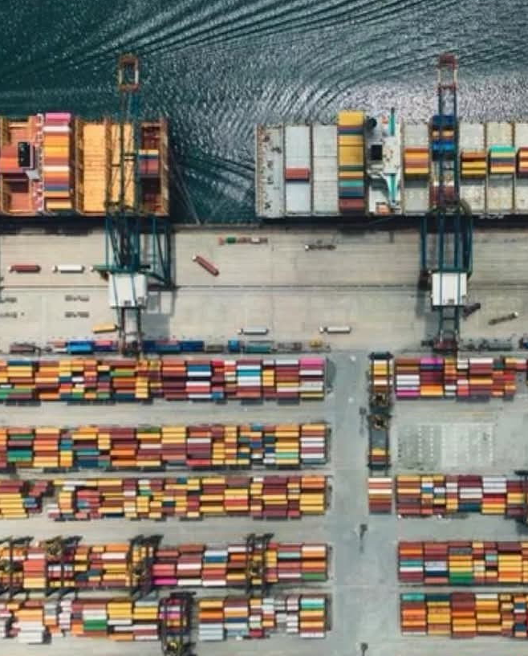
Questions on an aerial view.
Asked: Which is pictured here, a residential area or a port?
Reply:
port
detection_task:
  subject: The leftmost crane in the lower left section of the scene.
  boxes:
[0,529,33,598]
